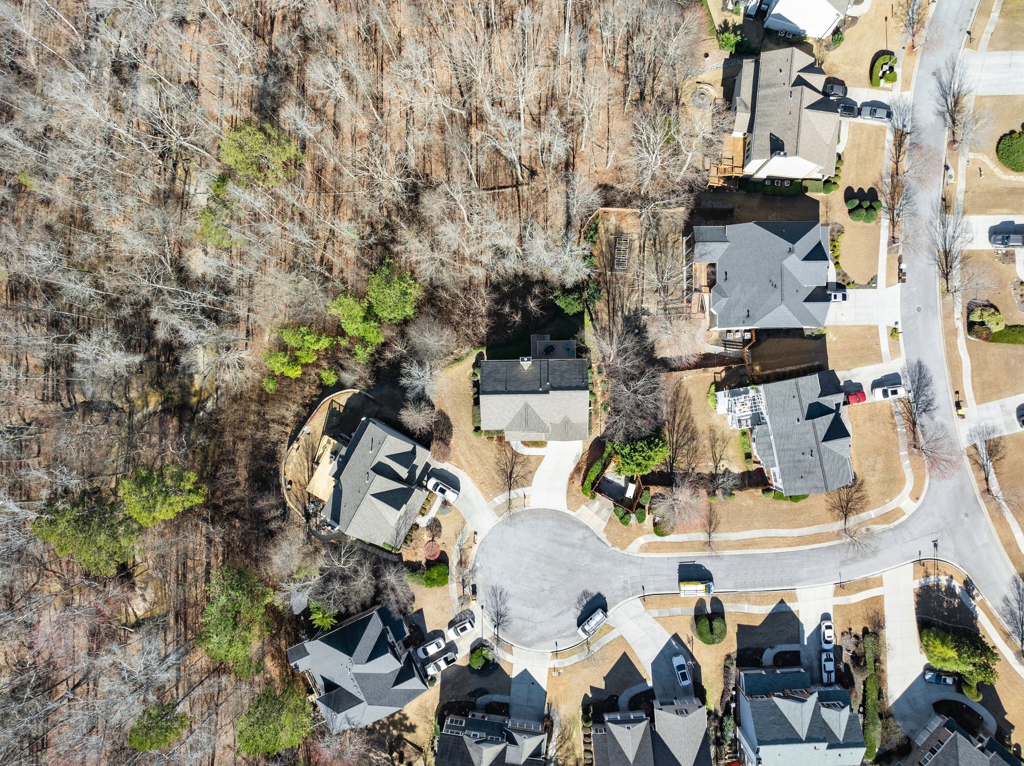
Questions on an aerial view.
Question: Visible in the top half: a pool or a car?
car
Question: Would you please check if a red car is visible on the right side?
Yes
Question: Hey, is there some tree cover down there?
Yes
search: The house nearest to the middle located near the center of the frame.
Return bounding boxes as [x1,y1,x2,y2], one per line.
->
[479,334,589,441]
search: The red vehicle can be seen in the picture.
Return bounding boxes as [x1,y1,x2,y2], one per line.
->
[841,390,866,407]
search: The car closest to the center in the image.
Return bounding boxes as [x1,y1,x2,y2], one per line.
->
[427,478,459,504]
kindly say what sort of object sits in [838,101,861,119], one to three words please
car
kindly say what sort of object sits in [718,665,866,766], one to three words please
house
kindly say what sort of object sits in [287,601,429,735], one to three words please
house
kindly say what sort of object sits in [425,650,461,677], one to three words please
truck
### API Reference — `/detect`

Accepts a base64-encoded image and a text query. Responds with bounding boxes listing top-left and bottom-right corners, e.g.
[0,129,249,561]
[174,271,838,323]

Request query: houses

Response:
[434,711,547,766]
[725,0,855,39]
[889,710,1024,766]
[708,47,840,189]
[590,691,712,766]
[716,370,854,496]
[688,221,831,332]
[479,334,589,441]
[718,665,866,766]
[287,601,429,735]
[304,418,430,549]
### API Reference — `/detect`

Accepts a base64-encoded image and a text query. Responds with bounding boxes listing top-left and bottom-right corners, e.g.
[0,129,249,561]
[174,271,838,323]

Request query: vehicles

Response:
[427,478,459,504]
[860,105,892,121]
[838,101,861,119]
[678,579,715,597]
[425,650,461,677]
[819,651,836,683]
[871,385,905,402]
[576,606,611,640]
[828,288,850,303]
[672,654,692,688]
[445,616,478,641]
[841,390,866,407]
[822,81,848,98]
[989,232,1024,248]
[819,618,835,650]
[419,636,448,658]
